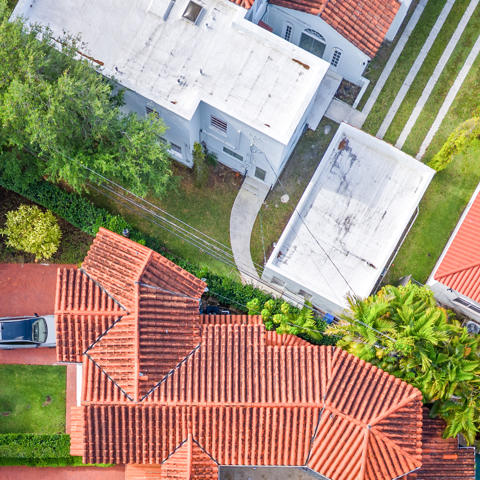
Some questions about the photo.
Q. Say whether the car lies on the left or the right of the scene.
left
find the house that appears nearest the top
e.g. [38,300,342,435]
[9,0,413,206]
